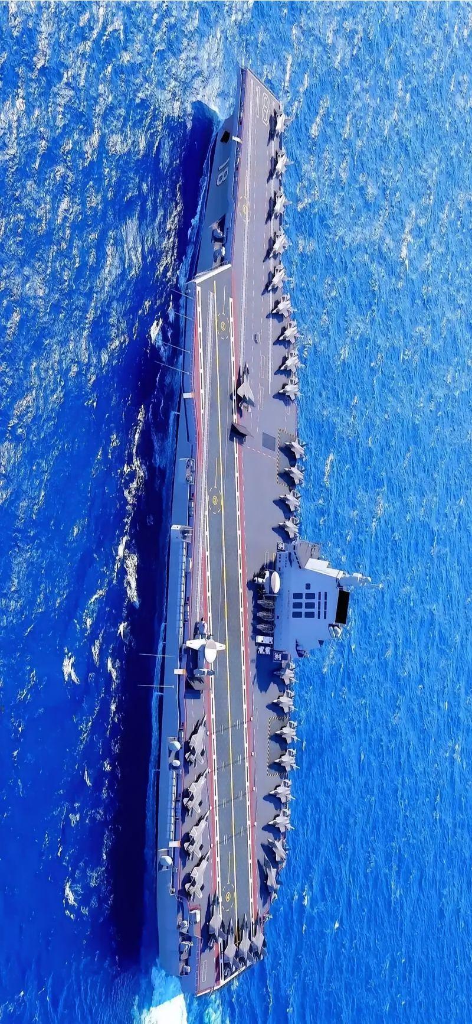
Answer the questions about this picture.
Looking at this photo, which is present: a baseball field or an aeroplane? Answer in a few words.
aeroplane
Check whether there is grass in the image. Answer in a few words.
No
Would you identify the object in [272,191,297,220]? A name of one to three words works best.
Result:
airplane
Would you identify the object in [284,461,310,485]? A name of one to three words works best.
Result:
airplane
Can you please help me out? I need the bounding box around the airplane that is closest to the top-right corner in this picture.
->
[273,109,296,139]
